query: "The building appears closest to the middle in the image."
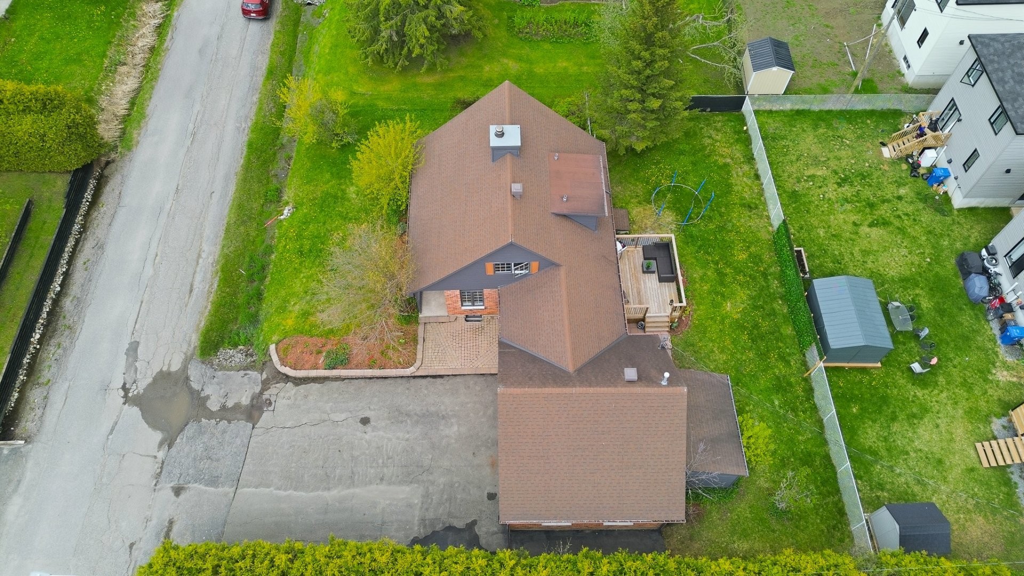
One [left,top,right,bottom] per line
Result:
[404,80,751,537]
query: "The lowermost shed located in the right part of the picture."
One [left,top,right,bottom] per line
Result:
[870,505,959,555]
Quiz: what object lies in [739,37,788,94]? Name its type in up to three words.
shed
